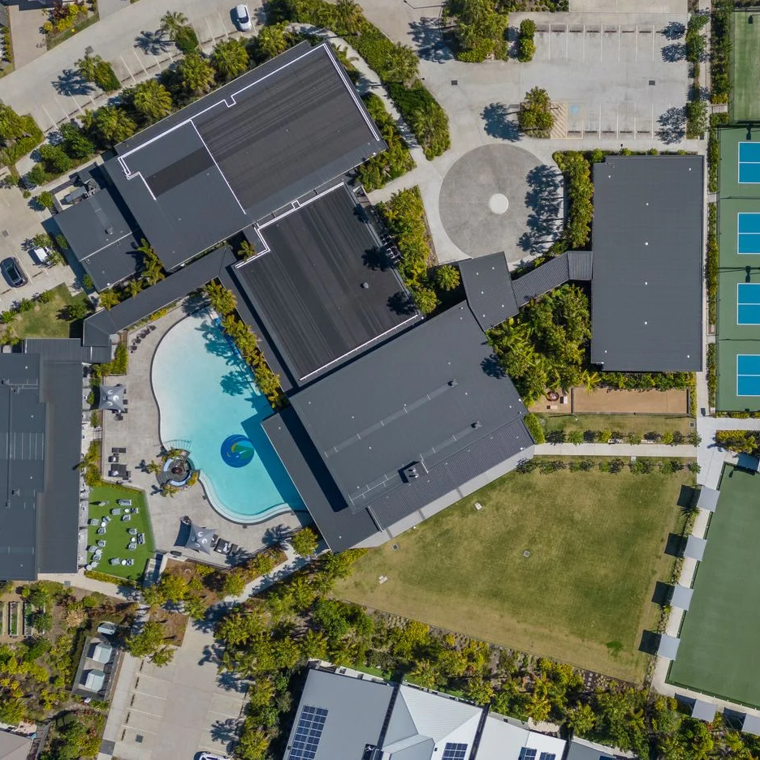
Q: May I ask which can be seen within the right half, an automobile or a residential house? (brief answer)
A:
residential house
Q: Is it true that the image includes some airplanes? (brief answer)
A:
No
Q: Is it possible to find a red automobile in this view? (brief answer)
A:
No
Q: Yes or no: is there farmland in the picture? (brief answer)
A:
No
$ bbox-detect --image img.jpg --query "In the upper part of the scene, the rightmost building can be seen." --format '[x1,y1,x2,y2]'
[590,154,702,373]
